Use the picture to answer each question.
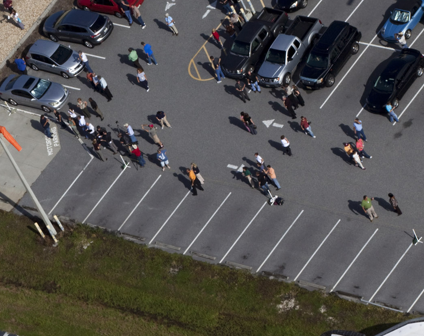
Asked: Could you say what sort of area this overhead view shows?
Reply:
parking lot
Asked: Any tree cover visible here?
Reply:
No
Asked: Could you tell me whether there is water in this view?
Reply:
No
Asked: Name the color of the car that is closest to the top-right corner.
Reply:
blue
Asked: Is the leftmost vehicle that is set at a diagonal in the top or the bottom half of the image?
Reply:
top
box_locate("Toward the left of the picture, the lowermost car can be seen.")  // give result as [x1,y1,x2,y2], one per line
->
[0,73,71,114]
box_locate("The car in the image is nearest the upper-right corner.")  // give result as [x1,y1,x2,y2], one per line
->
[379,0,424,41]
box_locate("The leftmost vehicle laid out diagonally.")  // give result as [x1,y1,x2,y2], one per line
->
[214,2,288,82]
